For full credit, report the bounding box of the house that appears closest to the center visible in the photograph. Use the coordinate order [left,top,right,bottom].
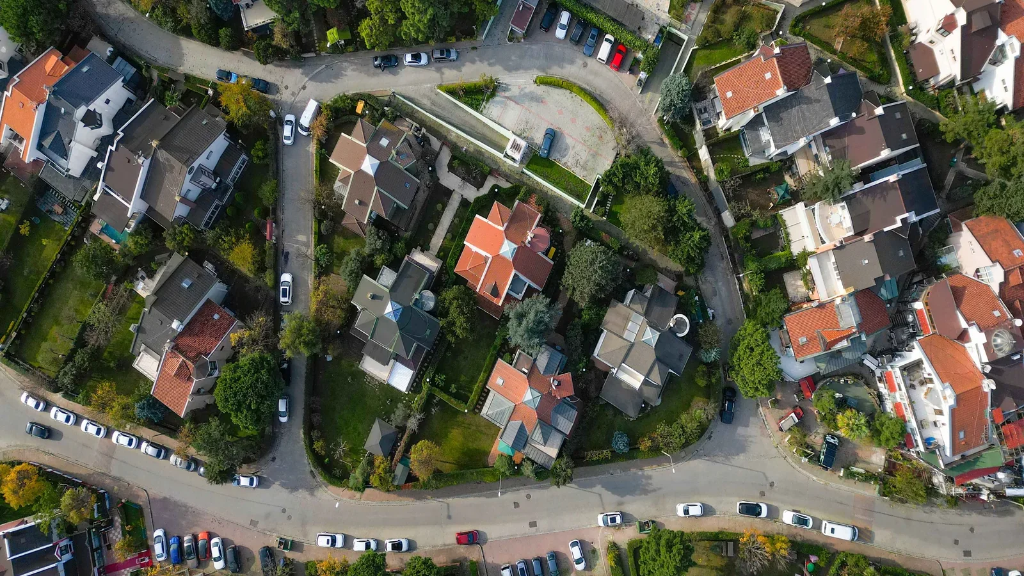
[454,200,554,320]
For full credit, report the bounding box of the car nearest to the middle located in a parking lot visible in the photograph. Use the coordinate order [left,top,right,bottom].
[539,127,555,157]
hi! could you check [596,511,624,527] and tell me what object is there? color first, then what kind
white car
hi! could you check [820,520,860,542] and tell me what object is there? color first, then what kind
white vehicle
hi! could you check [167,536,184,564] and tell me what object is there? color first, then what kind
blue car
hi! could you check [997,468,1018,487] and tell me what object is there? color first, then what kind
gray tent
